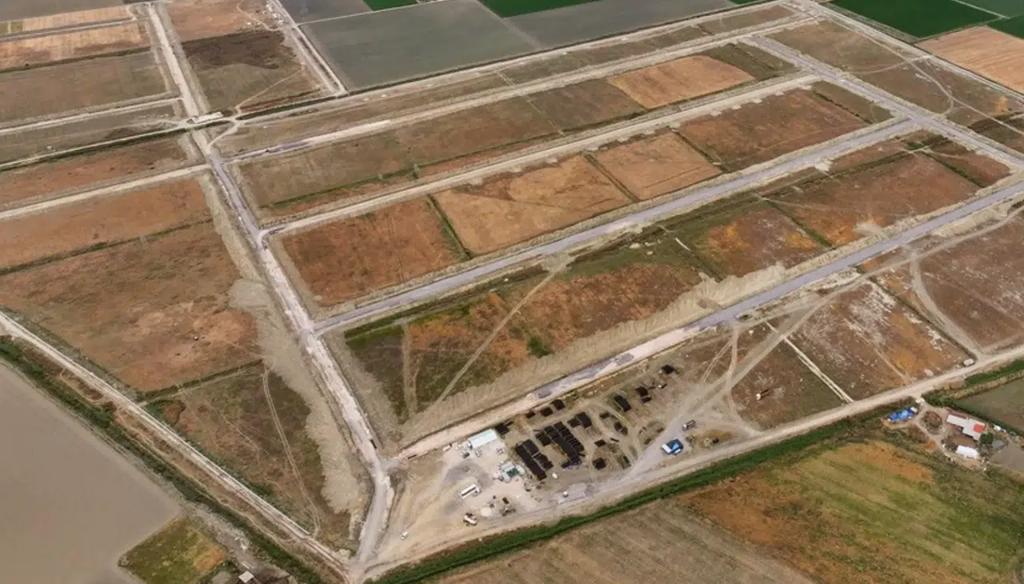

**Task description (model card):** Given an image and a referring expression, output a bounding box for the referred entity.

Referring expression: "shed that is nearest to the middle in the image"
[468,429,498,451]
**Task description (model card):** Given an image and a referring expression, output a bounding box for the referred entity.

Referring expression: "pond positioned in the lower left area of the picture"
[0,360,181,584]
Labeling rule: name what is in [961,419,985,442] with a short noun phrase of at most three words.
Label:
house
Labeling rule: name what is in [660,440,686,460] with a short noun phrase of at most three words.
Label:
building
